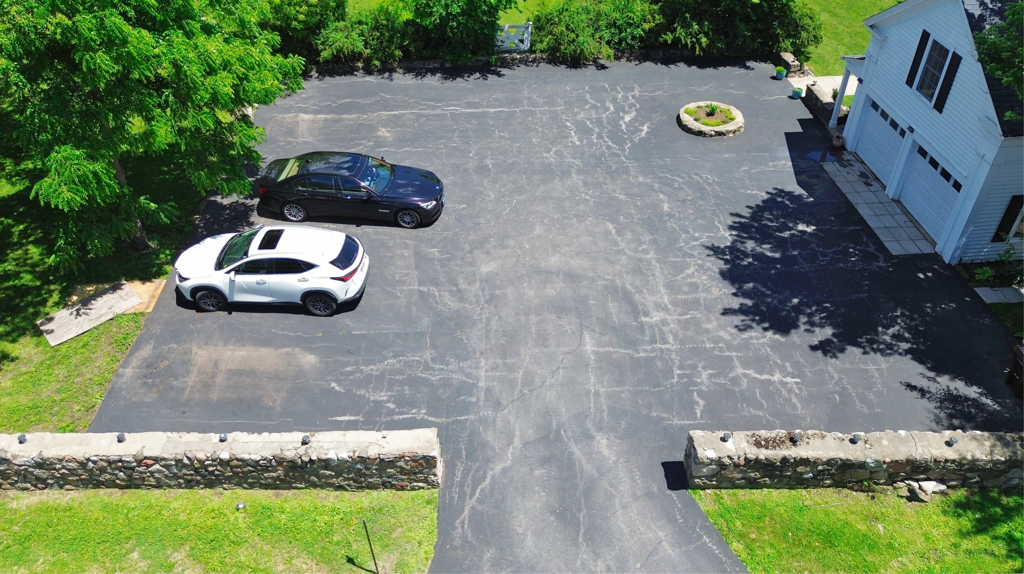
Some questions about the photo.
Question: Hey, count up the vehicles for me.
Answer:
2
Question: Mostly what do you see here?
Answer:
paved ground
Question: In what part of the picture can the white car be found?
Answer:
left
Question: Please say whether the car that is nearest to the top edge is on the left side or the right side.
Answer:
left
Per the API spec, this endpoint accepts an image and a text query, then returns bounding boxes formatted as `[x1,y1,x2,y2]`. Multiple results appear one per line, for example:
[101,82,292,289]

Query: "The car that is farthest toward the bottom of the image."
[174,220,372,315]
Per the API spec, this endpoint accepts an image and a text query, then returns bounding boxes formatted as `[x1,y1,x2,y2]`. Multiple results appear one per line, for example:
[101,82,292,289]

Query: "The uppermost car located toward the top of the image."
[258,151,447,227]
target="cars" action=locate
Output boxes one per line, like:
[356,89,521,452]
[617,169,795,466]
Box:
[174,220,372,315]
[258,151,447,227]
